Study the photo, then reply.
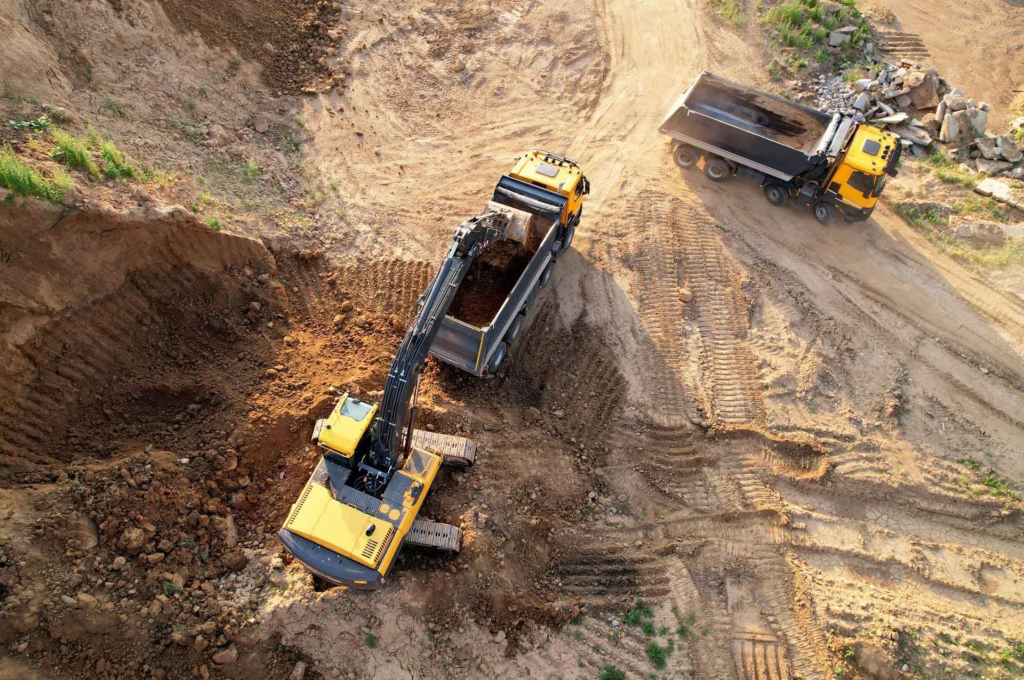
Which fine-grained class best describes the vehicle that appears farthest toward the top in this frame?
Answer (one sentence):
The vehicle that appears farthest toward the top in the image is a truck.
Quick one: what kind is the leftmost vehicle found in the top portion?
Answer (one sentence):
I'd identify the leftmost vehicle found in the top portion as a truck.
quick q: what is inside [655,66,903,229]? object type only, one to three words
truck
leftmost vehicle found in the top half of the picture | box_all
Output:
[416,150,594,378]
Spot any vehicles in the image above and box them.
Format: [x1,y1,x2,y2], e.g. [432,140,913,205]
[416,150,594,378]
[655,66,903,229]
[283,199,530,594]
